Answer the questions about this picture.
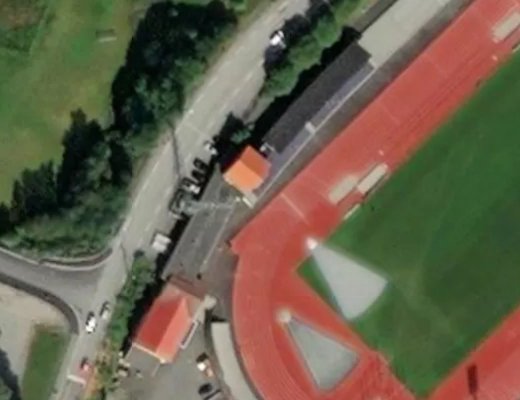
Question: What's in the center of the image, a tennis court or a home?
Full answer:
You can see a home in the center of the image.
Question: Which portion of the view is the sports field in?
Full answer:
You can find the sports field in the right area of the picture.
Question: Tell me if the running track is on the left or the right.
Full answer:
It is on the right.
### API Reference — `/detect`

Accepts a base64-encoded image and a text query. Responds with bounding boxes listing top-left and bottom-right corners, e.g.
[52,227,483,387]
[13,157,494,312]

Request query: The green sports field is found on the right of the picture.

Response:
[295,48,520,400]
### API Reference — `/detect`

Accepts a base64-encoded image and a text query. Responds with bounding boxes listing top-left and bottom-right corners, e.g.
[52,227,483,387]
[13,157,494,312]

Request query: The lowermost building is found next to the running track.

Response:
[133,284,204,363]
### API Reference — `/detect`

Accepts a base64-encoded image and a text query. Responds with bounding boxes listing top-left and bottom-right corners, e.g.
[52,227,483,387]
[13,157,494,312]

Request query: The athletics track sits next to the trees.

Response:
[226,0,520,400]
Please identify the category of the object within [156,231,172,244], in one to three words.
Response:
vehicle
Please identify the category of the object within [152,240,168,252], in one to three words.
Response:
vehicle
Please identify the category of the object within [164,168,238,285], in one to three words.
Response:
building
